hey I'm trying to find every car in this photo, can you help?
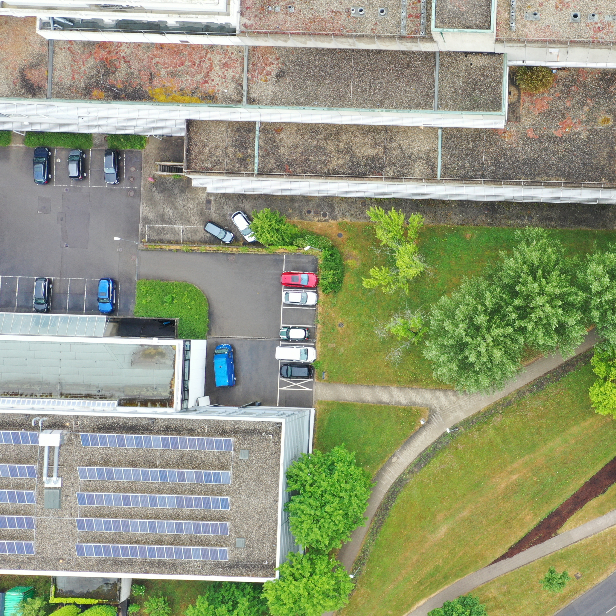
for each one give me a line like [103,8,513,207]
[204,220,236,244]
[32,148,53,184]
[283,290,318,307]
[97,278,117,313]
[282,363,315,380]
[32,278,53,312]
[274,345,317,363]
[67,150,87,180]
[102,149,123,185]
[281,270,318,288]
[279,325,309,342]
[229,210,259,245]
